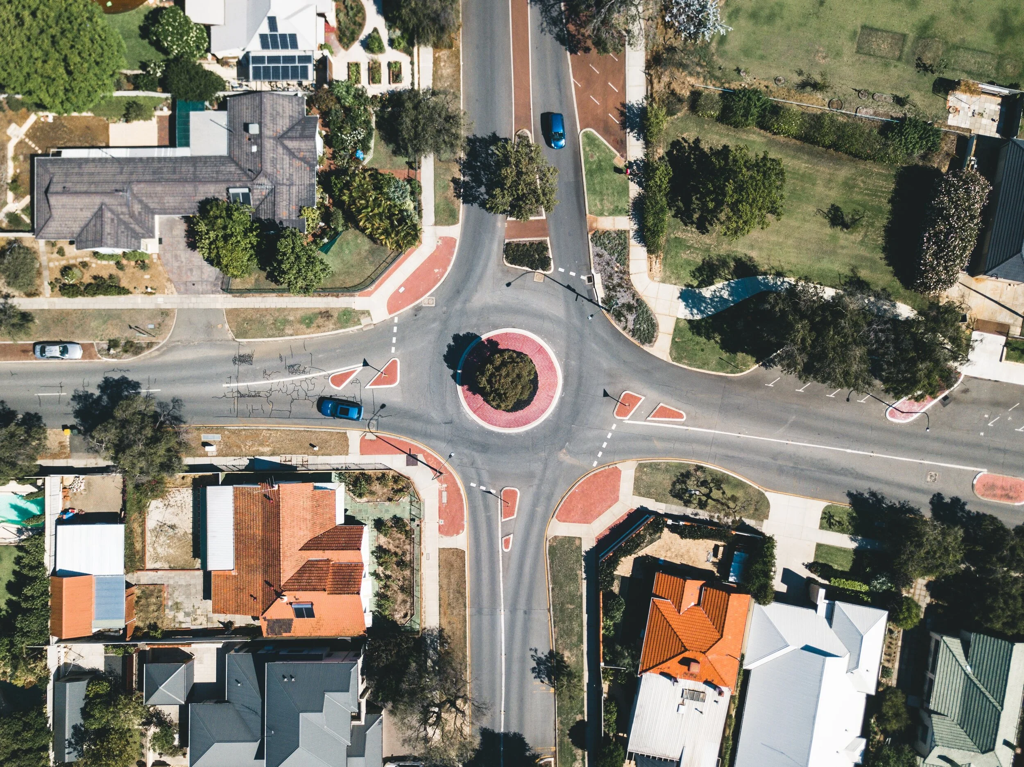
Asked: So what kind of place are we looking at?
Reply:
residential area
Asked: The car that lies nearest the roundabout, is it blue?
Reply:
Yes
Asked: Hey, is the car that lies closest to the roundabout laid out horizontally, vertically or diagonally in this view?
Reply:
horizontally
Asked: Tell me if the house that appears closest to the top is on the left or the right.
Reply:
left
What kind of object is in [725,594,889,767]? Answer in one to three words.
house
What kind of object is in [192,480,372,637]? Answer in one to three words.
house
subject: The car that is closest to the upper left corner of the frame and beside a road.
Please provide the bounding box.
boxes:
[34,341,84,362]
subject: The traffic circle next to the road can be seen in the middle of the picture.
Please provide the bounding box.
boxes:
[457,327,562,433]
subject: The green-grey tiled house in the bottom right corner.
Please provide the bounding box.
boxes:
[912,628,1024,767]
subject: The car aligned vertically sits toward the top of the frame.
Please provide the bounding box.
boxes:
[549,112,567,150]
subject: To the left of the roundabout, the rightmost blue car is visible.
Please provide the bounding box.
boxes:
[321,400,364,421]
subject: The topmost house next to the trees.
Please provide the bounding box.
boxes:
[185,0,327,88]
